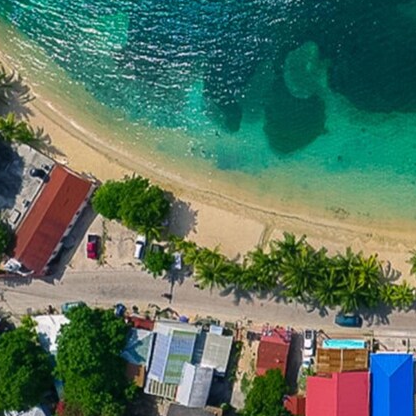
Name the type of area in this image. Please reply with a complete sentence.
This looks like a residential area.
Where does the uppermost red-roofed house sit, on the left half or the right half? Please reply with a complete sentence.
You can find the uppermost red-roofed house on the left side of the picture.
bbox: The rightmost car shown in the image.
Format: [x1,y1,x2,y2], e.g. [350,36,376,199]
[335,312,363,327]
